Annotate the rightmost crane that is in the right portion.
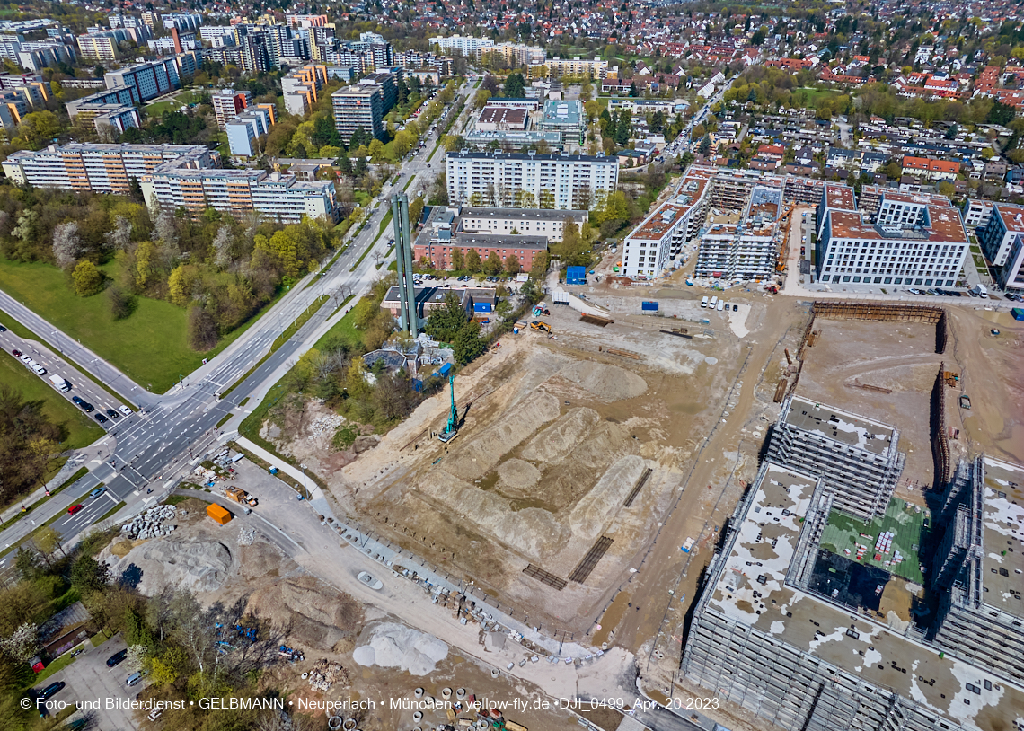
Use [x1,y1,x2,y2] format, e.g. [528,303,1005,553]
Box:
[761,193,795,268]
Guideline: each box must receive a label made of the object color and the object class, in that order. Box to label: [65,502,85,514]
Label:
red vehicle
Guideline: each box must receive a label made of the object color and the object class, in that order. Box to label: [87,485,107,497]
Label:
blue vehicle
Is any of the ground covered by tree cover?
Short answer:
Yes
